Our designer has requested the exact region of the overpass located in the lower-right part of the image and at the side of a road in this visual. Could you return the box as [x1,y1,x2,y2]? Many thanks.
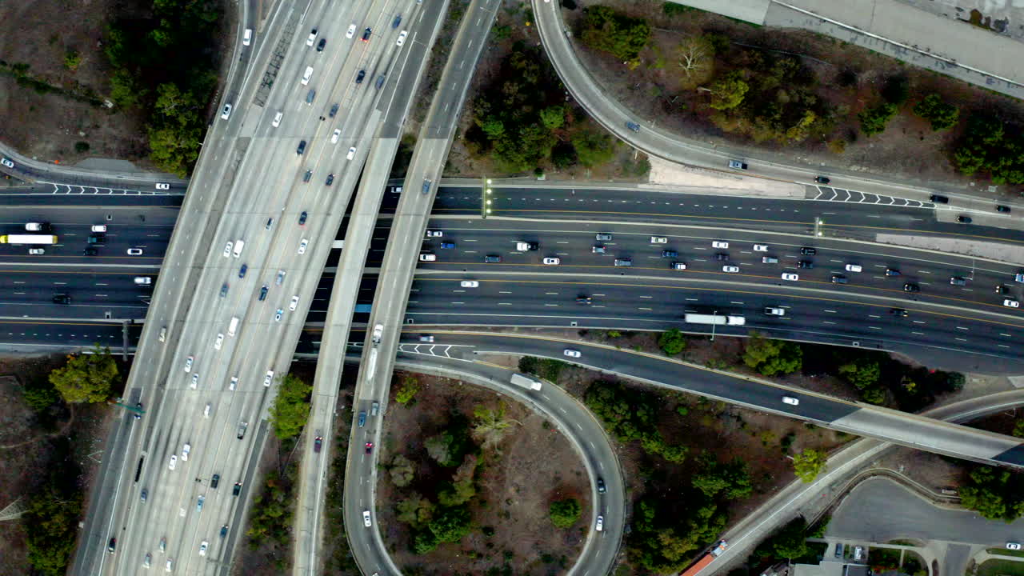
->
[846,399,998,460]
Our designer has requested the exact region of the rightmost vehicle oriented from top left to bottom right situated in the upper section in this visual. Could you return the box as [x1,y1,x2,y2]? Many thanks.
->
[623,119,642,134]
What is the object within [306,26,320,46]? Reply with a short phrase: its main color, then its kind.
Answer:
white vehicle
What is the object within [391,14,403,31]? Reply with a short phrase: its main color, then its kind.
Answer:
blue vehicle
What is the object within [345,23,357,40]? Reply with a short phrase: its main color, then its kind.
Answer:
white vehicle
